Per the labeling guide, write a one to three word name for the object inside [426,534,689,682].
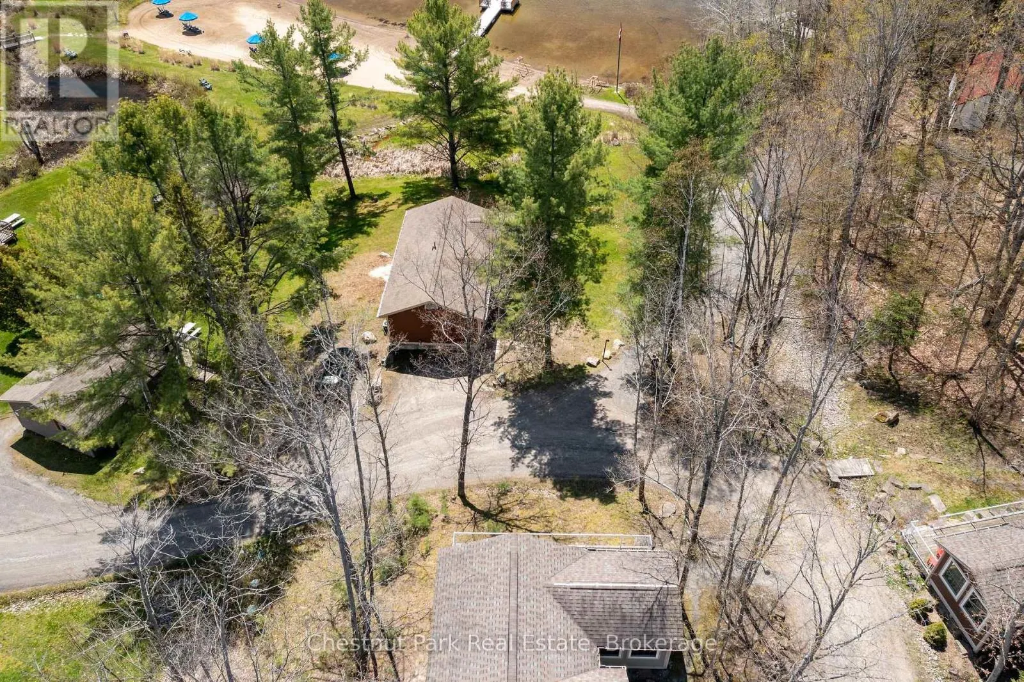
house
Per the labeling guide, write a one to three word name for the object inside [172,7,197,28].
umbrella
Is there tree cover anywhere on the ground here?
Yes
